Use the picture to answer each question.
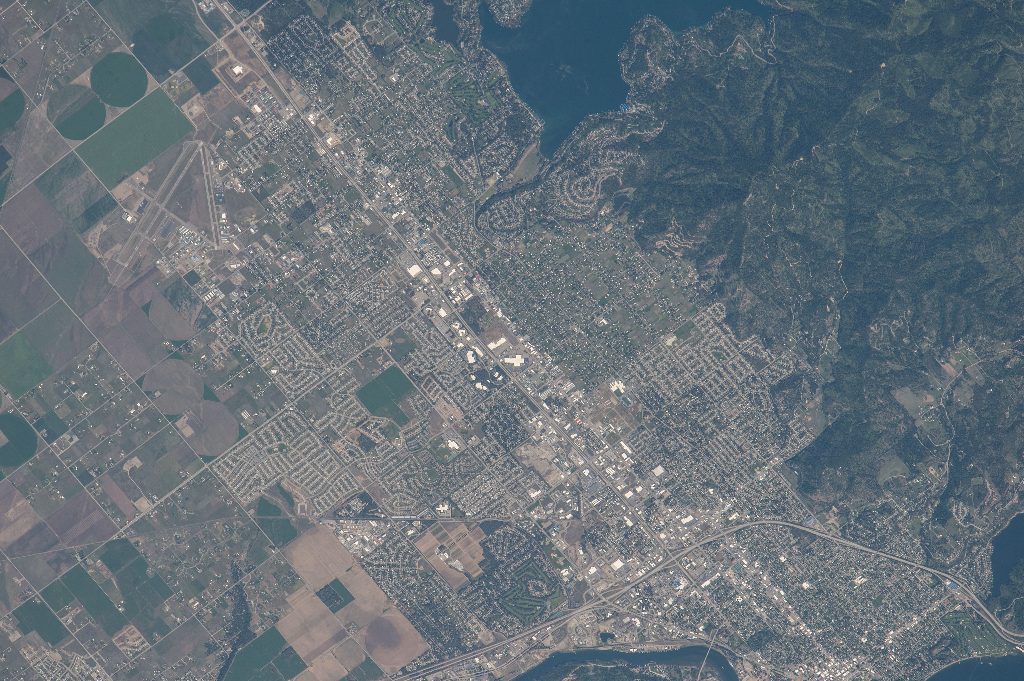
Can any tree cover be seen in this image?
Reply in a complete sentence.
Yes, some tree cover is visible.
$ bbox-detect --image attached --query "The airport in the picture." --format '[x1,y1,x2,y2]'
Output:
[95,130,243,285]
